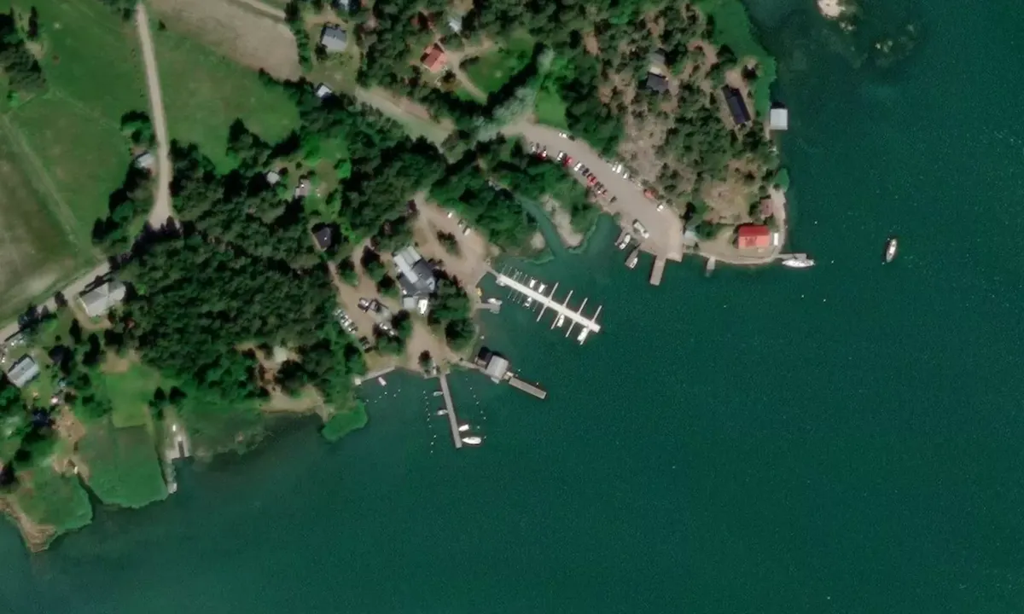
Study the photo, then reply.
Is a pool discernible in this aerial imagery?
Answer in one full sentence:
No, the scene contains no pool.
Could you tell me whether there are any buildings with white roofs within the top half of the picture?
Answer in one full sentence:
Yes, the scene does show a building with a white roof within the top half of the picture.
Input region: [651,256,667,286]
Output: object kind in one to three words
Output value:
pier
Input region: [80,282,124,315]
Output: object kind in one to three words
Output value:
house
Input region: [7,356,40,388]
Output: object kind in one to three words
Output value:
house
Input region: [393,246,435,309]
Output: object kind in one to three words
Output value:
building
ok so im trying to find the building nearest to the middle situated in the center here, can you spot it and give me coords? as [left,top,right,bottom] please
[475,351,510,382]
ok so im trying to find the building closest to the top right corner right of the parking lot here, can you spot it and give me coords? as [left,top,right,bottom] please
[770,109,787,130]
